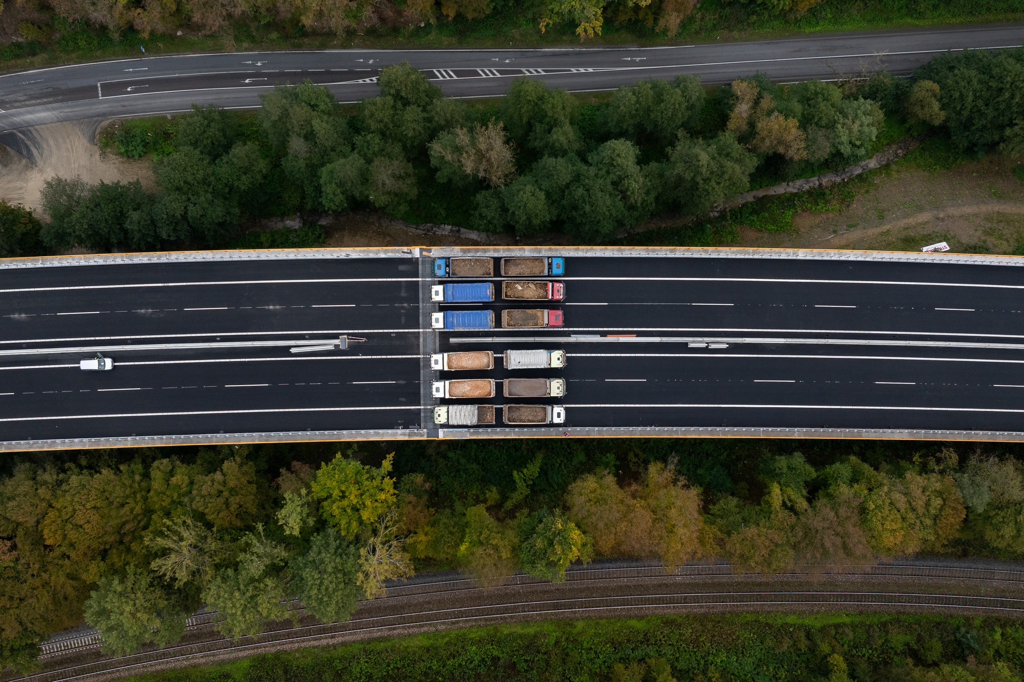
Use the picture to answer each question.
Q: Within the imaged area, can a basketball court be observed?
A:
No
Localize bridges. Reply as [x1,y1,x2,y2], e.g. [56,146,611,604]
[0,247,1024,450]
